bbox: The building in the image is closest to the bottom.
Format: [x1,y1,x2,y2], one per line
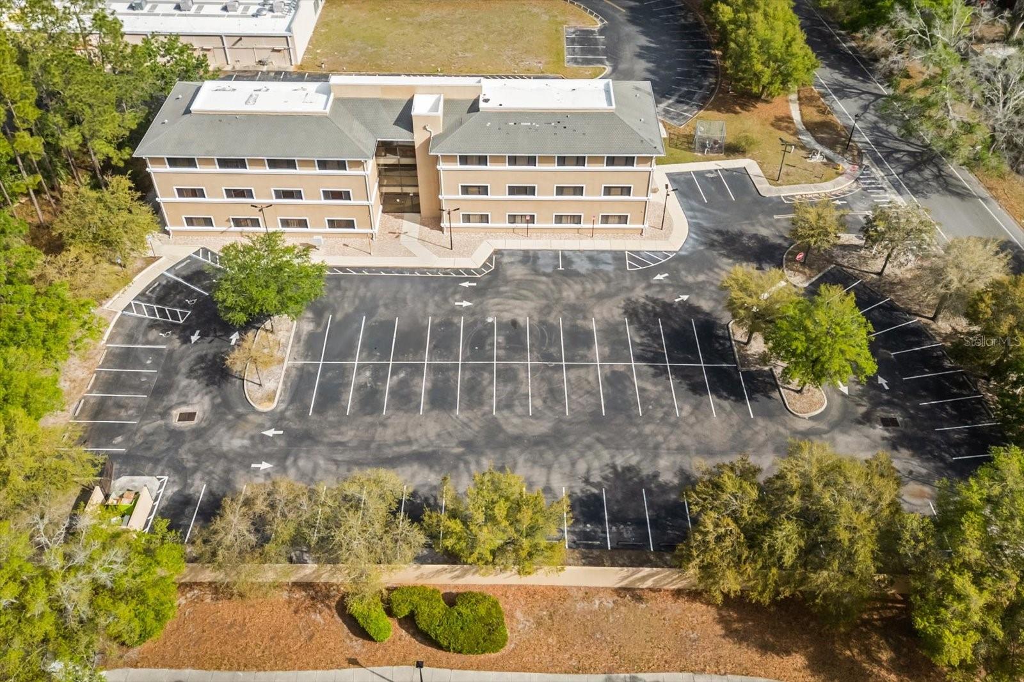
[131,73,663,243]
